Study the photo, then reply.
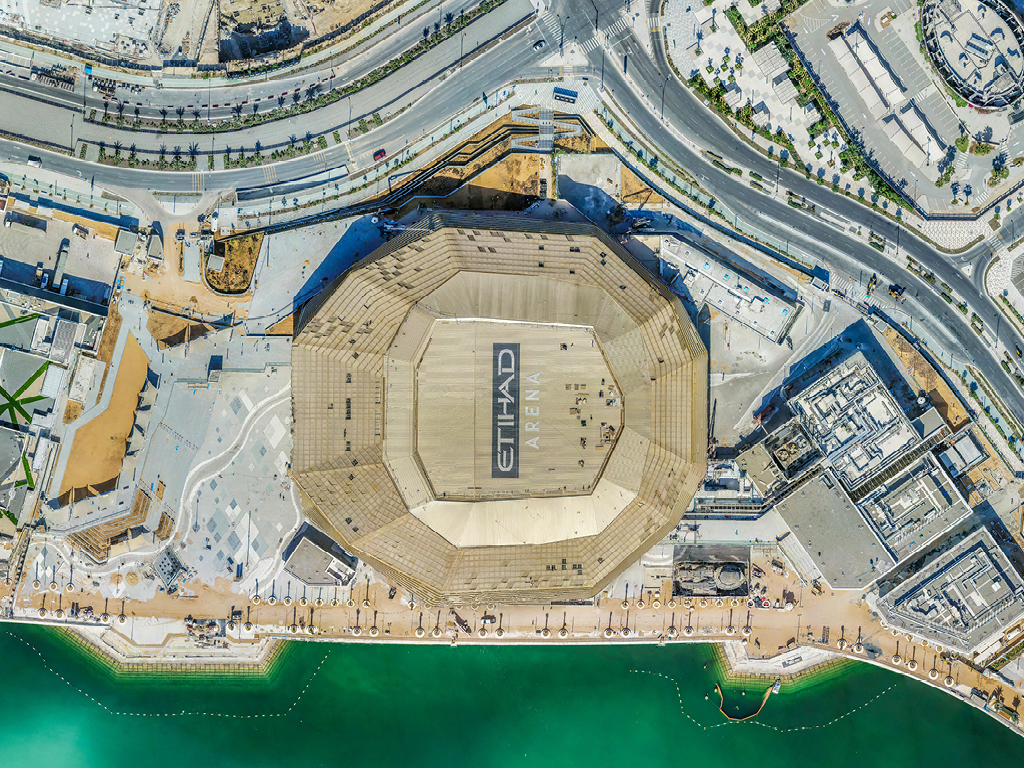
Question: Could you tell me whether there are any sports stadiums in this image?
Yes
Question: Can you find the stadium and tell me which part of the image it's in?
center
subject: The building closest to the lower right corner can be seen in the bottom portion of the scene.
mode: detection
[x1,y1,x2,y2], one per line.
[873,525,1024,657]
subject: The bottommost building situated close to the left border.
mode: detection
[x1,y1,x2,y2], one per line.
[0,288,111,532]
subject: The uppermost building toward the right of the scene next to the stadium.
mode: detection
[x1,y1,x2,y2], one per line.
[660,234,805,347]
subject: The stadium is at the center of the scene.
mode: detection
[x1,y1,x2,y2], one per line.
[290,213,708,606]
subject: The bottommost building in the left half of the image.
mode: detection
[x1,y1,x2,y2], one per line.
[283,536,356,586]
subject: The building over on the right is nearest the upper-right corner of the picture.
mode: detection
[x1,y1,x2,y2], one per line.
[926,0,1024,107]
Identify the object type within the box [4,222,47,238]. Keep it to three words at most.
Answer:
vehicle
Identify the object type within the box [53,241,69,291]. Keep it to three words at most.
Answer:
vehicle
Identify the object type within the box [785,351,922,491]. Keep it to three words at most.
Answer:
building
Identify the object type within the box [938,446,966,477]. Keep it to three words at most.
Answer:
building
